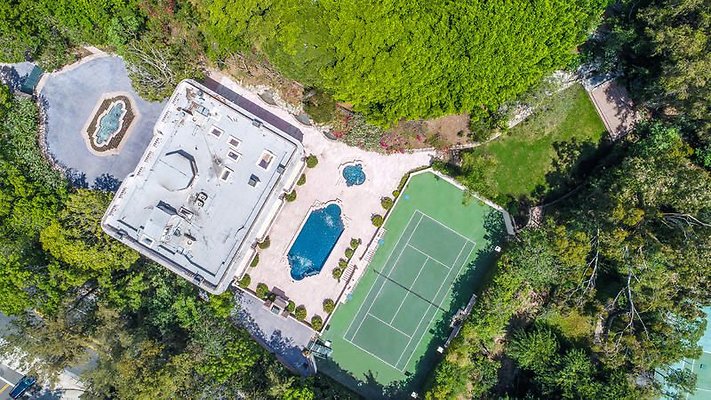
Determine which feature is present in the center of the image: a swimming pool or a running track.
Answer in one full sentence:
The one visible in the center of the image is a swimming pool.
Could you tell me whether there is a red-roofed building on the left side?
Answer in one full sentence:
No, no red-roofed building can be made out on the left side.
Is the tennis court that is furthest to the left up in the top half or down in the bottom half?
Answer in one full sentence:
The tennis court that is furthest to the left is in the bottom half of the image.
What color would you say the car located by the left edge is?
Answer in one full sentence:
The car located by the left edge is blue.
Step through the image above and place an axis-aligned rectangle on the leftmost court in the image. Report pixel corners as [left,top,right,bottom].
[301,170,513,400]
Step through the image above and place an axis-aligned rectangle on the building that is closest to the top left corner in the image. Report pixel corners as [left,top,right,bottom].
[100,78,309,292]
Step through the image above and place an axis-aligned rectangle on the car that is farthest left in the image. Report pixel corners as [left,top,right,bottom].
[10,374,37,400]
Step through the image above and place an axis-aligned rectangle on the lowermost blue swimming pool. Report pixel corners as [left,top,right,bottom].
[285,199,346,278]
